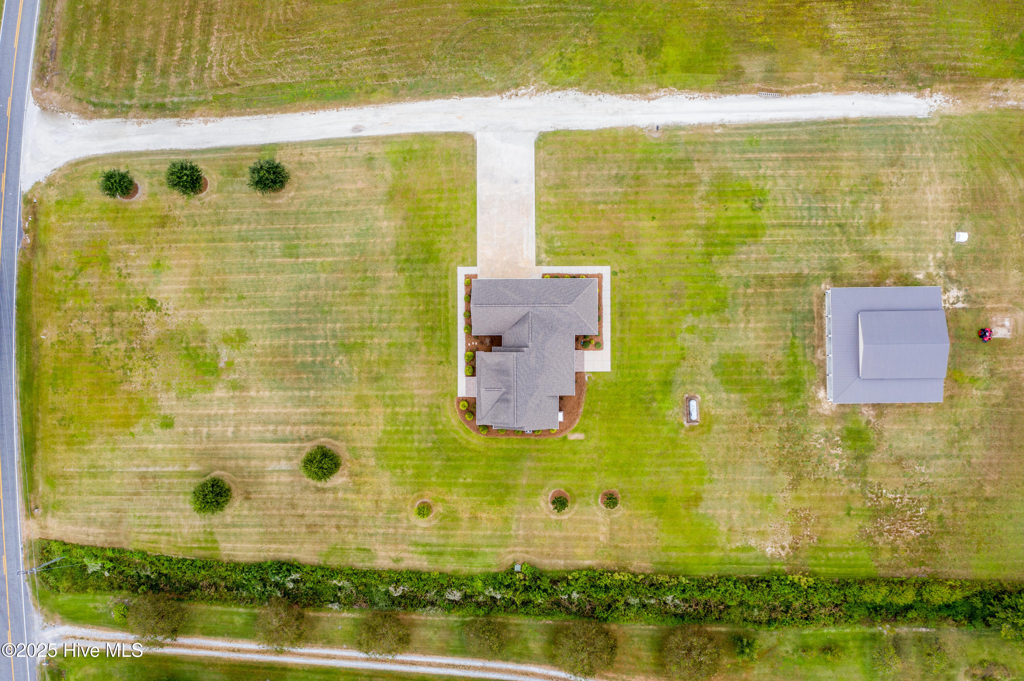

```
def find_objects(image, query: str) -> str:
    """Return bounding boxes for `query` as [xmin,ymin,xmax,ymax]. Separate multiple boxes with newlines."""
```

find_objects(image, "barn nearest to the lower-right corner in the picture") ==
[824,286,950,404]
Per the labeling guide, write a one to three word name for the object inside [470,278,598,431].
house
